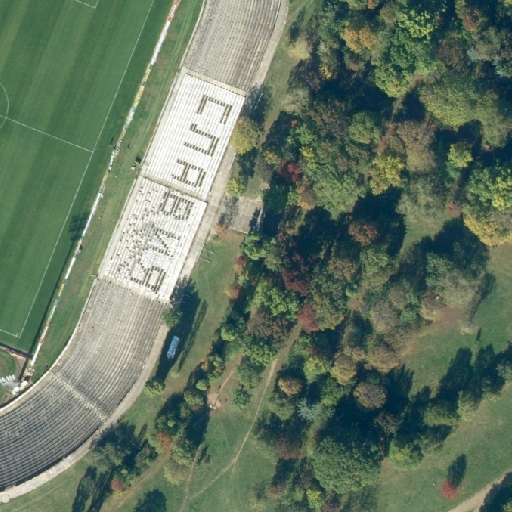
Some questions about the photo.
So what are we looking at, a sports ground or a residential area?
sports ground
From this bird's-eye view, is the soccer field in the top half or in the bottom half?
top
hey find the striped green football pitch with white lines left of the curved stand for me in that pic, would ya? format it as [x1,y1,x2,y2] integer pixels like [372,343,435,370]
[0,0,176,354]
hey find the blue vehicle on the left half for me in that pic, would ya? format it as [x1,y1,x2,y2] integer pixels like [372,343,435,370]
[166,336,179,358]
